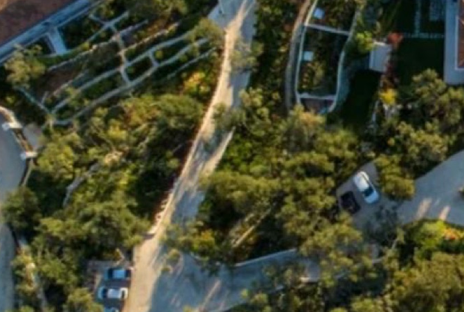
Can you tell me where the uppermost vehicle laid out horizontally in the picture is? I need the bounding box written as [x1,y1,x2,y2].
[106,267,135,281]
